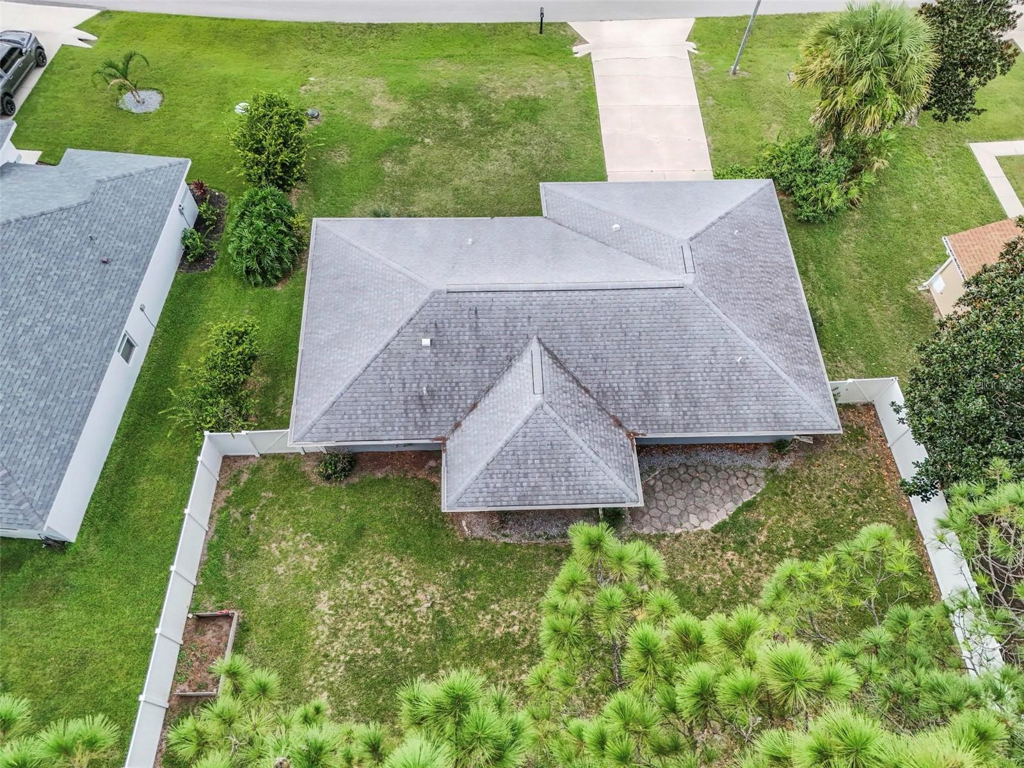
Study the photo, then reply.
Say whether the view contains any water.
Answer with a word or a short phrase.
No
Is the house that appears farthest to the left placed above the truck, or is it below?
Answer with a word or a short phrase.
below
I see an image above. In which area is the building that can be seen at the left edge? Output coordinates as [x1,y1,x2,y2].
[0,121,197,541]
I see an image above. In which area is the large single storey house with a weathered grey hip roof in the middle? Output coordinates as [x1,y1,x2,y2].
[289,179,841,527]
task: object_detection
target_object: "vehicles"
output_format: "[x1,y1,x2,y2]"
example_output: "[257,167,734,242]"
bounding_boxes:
[0,24,45,116]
